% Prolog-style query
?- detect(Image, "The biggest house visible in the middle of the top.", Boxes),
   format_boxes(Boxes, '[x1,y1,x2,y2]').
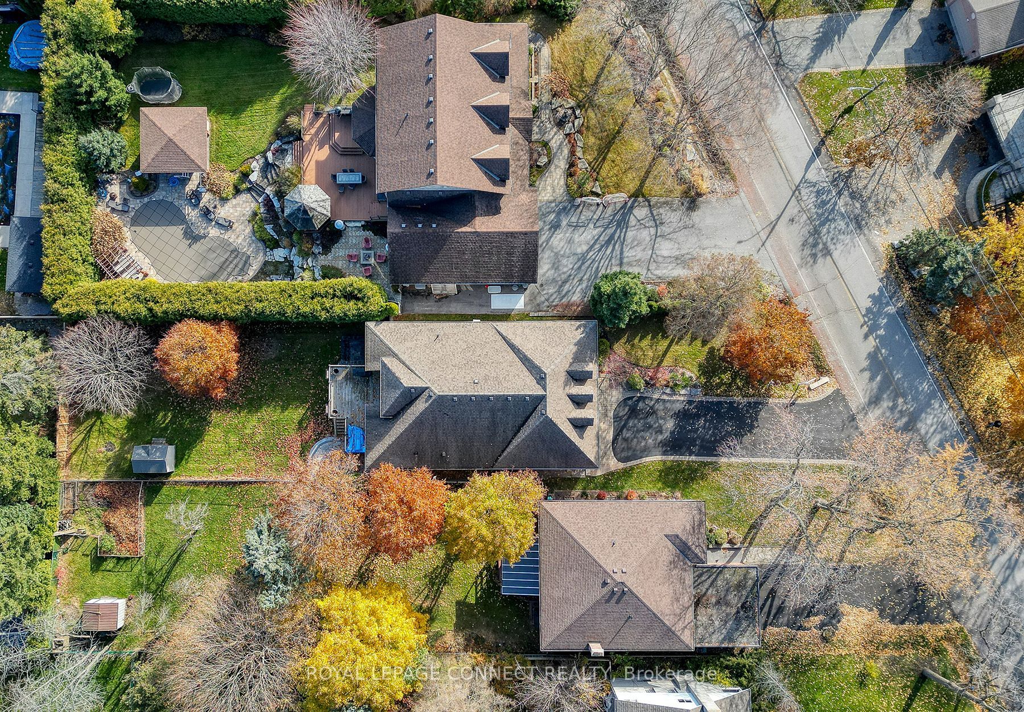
[352,14,539,285]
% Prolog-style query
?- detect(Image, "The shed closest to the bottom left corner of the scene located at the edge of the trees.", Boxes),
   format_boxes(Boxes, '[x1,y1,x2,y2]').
[82,596,130,632]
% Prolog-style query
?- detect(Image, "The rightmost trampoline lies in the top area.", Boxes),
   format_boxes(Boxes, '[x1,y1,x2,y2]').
[129,63,182,106]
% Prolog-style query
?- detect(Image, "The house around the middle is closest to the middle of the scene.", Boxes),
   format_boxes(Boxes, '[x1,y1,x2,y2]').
[364,319,600,470]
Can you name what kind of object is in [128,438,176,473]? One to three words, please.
shed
